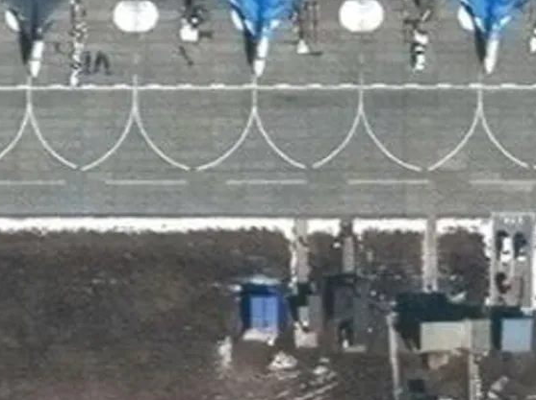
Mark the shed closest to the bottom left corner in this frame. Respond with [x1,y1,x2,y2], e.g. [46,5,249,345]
[235,280,286,330]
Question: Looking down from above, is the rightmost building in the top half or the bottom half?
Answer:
bottom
